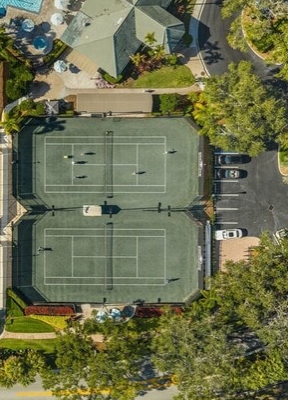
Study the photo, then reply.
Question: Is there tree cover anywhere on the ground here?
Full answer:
Yes, tree cover can be seen from above here.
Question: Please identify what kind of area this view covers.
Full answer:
This looks like a sports ground.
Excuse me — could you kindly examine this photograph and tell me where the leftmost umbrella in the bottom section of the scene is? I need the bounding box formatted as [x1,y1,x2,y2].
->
[94,310,107,323]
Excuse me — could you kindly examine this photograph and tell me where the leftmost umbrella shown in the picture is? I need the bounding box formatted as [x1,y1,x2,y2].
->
[20,20,34,33]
